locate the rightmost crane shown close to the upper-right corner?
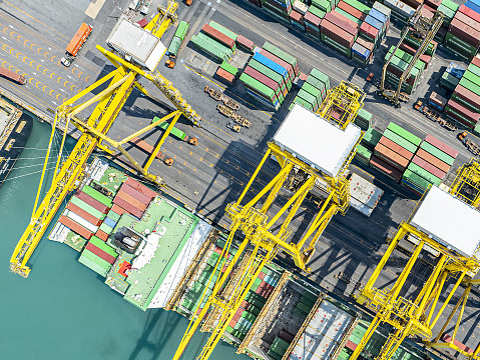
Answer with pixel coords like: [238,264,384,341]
[374,0,443,103]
